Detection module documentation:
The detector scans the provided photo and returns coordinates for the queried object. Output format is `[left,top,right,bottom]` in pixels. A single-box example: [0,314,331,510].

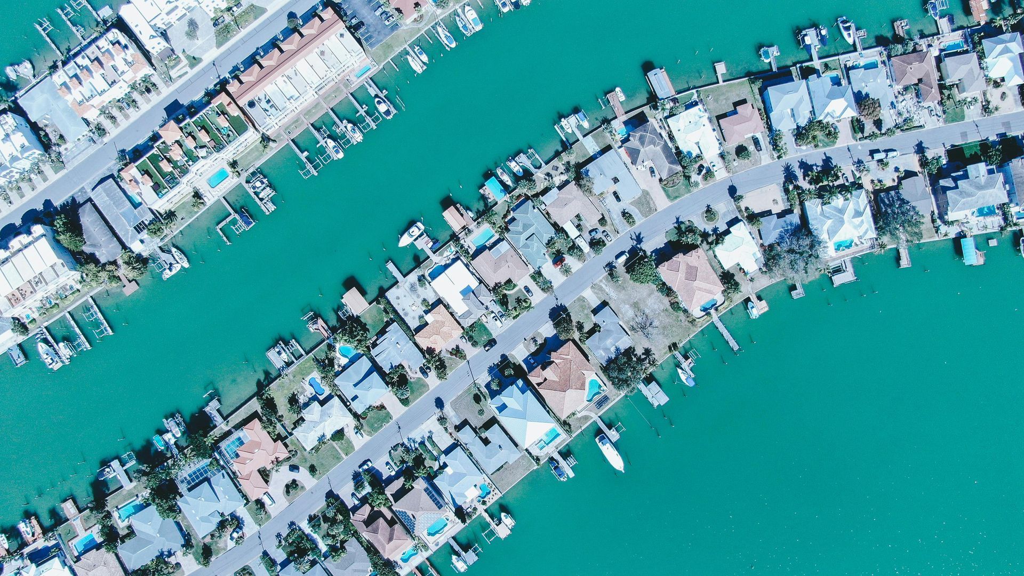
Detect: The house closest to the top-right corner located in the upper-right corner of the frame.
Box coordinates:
[980,32,1024,87]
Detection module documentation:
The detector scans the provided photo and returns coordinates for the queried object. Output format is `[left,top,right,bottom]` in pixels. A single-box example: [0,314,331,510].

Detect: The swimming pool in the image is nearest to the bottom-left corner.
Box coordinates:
[27,544,60,563]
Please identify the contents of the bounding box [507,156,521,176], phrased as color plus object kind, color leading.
white boat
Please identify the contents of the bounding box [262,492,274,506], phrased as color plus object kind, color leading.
white vehicle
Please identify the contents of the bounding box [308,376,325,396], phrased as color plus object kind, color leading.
blue swimming pool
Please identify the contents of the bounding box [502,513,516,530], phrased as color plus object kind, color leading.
white boat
